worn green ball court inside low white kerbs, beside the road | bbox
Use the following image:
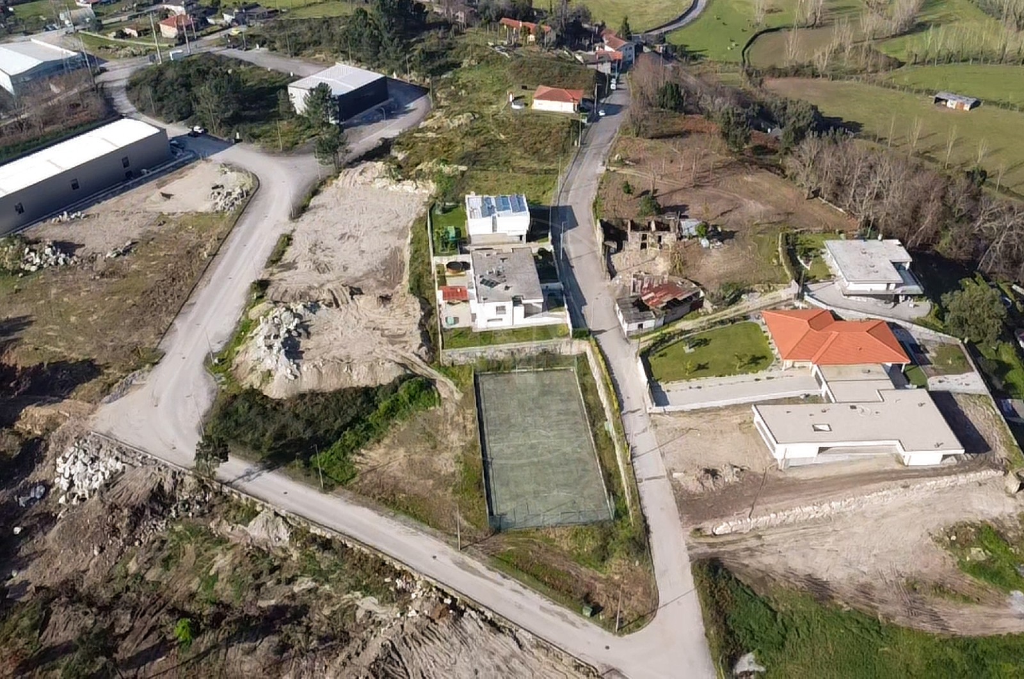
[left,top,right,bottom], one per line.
[475,367,612,529]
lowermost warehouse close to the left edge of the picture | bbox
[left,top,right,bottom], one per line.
[0,117,170,238]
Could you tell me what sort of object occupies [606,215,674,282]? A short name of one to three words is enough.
house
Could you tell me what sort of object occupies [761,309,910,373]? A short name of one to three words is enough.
house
